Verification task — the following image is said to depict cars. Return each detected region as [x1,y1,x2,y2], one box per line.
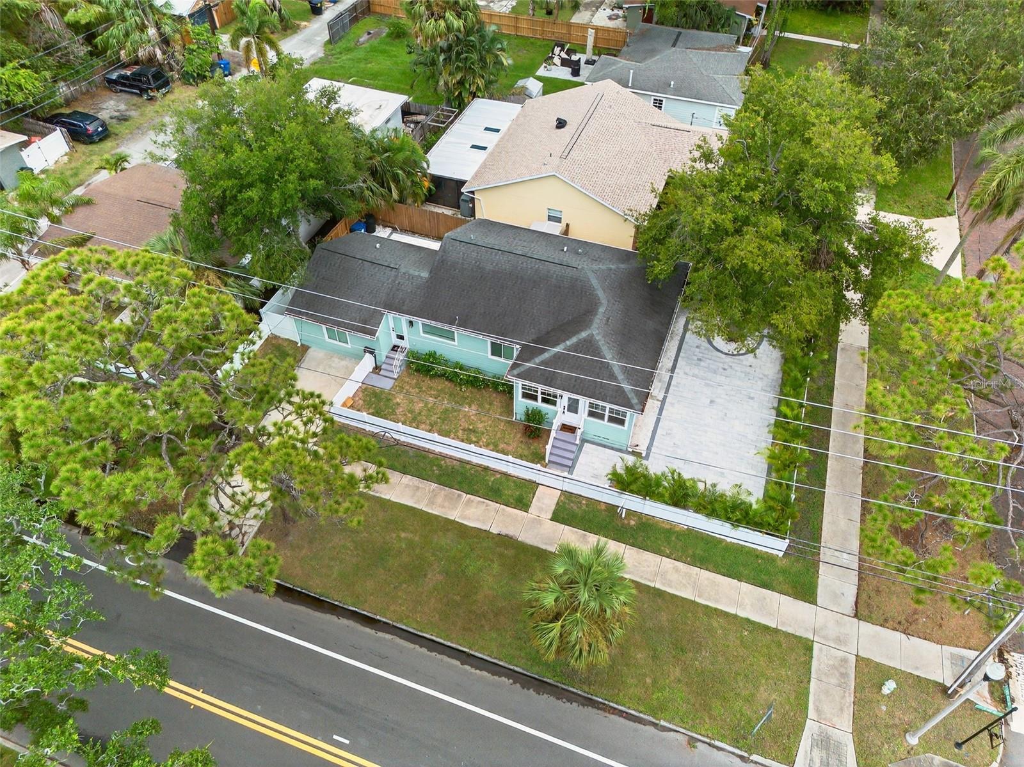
[37,105,104,142]
[103,64,171,100]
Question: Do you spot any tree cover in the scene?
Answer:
Yes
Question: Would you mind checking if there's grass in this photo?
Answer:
Yes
